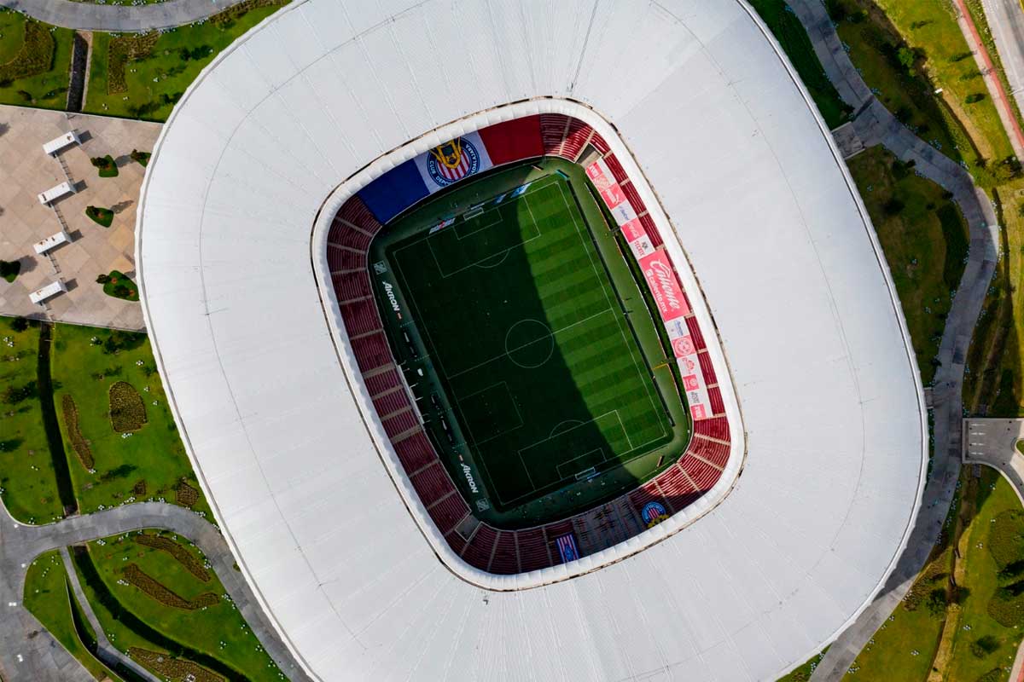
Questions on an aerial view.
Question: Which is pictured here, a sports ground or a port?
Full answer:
It's a sports ground.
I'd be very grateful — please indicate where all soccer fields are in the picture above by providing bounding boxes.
[373,165,686,521]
